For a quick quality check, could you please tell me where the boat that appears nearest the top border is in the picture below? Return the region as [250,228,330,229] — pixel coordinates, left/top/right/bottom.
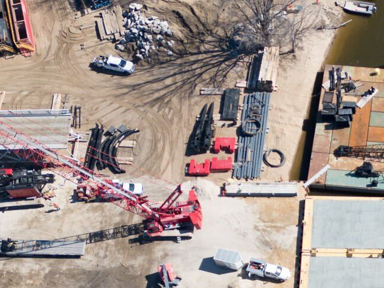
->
[343,1,377,17]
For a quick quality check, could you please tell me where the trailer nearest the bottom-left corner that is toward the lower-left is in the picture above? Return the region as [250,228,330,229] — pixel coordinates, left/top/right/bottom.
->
[0,239,85,260]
